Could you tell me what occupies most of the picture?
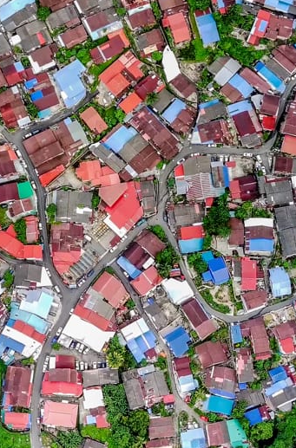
buildings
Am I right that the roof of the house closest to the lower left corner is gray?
No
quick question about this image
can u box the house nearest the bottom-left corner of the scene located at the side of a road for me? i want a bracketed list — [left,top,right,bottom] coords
[2,409,33,431]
